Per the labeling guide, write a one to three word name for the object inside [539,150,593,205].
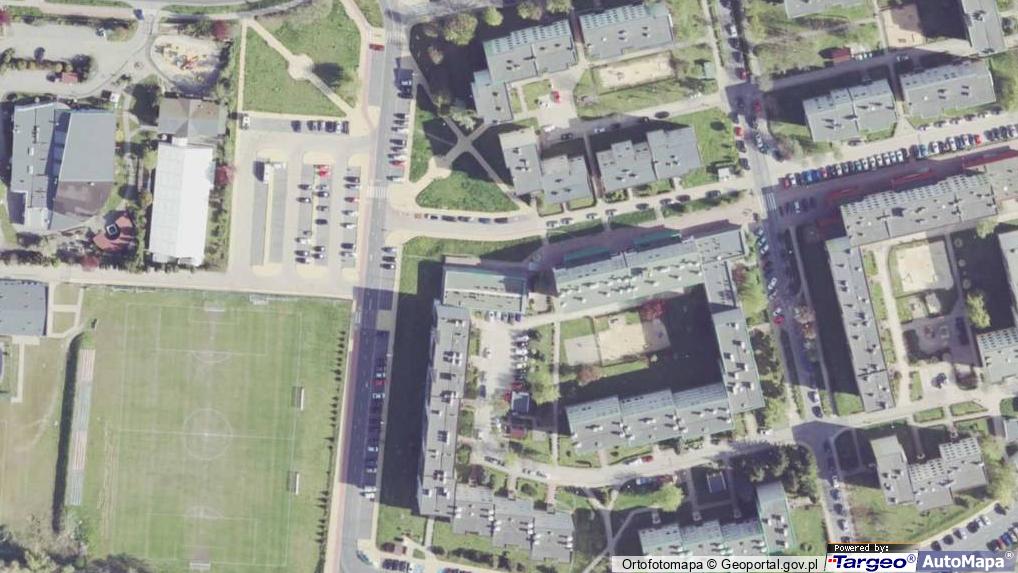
building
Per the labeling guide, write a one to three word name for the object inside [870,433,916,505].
building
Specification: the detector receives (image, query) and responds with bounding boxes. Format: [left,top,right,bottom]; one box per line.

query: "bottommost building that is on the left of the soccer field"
[0,275,48,336]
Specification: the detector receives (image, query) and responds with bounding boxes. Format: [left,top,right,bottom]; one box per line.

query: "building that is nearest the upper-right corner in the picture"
[962,0,1005,55]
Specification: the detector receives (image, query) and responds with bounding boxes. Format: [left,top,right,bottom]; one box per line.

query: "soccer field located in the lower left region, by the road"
[70,292,352,573]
